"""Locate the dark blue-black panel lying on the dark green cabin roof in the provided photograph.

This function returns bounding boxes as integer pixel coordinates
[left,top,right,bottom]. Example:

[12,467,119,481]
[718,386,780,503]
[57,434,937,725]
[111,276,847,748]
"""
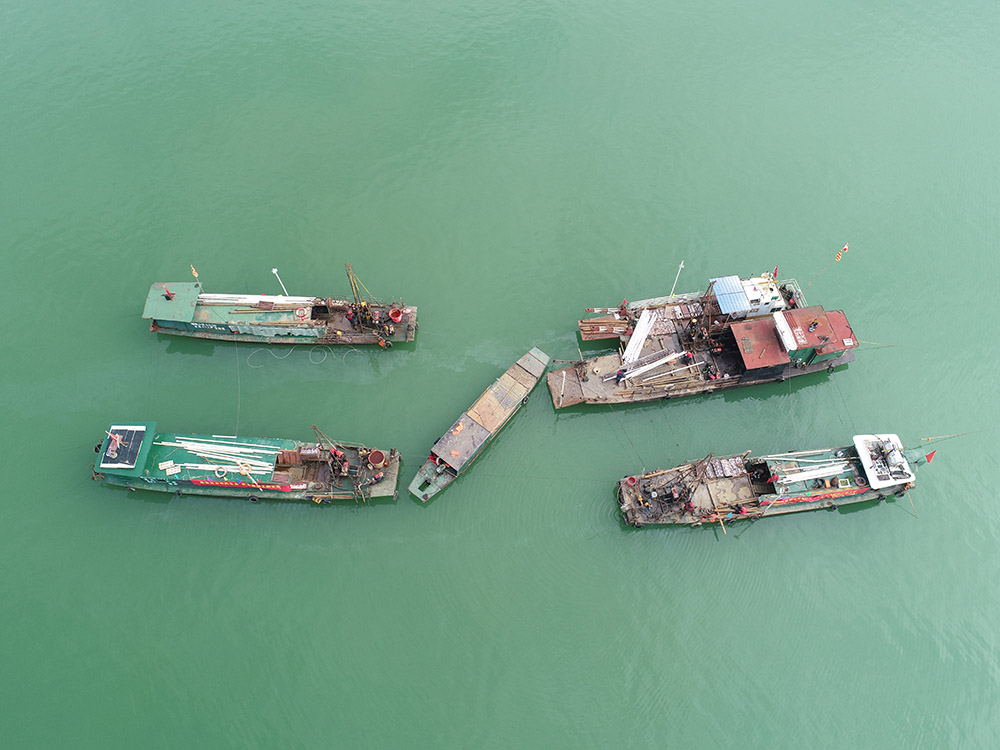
[104,430,146,464]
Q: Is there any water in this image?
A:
Yes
